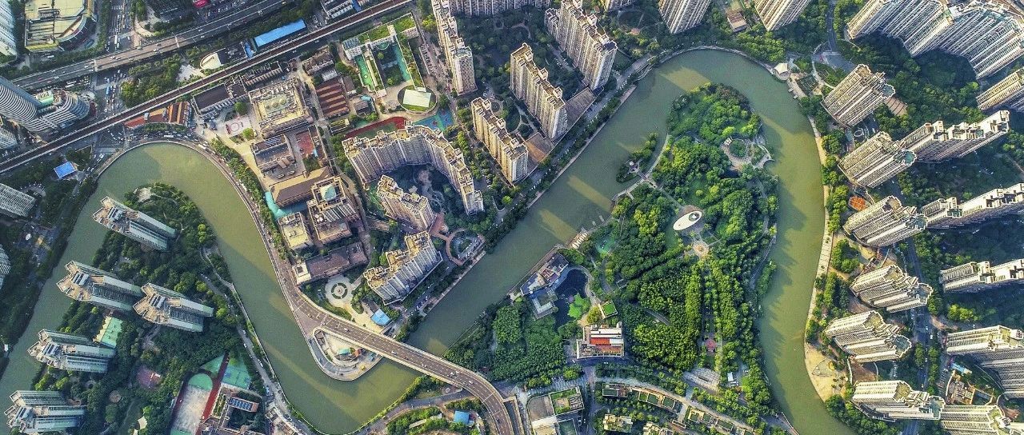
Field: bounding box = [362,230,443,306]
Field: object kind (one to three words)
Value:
building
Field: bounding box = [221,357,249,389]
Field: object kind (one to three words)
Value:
basketball court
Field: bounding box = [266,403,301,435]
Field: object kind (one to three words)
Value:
house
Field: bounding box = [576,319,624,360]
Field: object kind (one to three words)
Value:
building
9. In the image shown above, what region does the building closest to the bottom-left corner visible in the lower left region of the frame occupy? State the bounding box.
[2,391,100,433]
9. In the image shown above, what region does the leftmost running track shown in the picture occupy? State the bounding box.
[166,353,230,435]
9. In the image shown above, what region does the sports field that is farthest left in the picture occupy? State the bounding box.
[171,386,212,435]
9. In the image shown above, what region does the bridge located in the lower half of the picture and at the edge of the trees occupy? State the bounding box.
[278,287,516,435]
